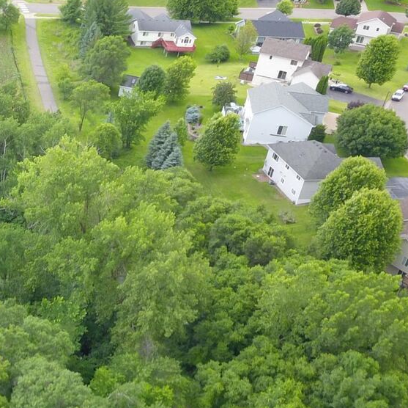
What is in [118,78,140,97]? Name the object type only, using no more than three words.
shed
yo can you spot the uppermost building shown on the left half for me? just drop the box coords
[115,5,204,56]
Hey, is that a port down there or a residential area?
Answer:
residential area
